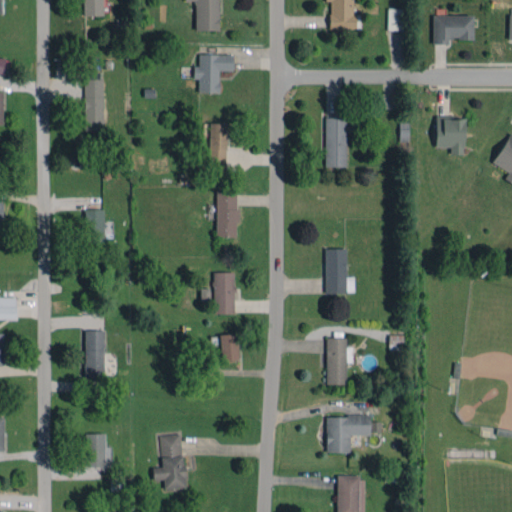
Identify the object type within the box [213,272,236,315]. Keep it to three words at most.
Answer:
house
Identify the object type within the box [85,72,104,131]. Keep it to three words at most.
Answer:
house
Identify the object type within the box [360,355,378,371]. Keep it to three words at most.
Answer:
swimming pool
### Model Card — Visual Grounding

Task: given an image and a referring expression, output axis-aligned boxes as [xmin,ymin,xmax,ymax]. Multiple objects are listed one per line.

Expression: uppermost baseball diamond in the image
[454,275,512,432]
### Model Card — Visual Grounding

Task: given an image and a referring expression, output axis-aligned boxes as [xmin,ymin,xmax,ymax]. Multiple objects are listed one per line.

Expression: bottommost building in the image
[338,476,366,512]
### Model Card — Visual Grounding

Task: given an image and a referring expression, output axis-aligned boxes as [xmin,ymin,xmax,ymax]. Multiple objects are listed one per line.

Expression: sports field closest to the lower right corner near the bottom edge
[446,460,512,512]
